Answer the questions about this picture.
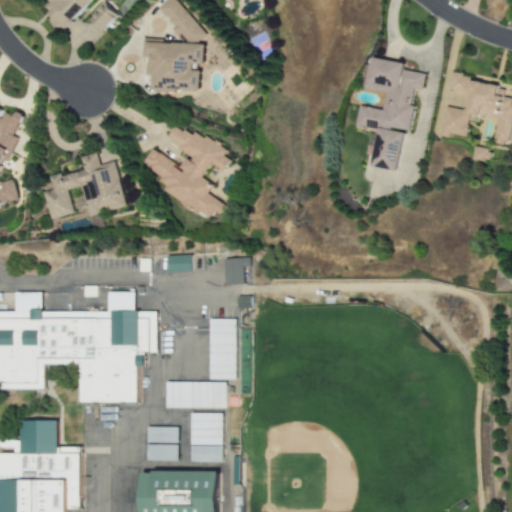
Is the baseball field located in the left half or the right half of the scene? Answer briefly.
right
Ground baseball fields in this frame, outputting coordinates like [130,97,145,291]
[243,300,480,512]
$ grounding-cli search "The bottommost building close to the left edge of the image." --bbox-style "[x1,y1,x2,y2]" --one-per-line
[0,420,85,512]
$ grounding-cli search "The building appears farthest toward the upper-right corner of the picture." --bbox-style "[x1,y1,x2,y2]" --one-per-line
[440,72,512,144]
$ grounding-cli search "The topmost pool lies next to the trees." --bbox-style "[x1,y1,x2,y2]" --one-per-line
[242,0,264,17]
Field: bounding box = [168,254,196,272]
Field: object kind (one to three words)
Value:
shed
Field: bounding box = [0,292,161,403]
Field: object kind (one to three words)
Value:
building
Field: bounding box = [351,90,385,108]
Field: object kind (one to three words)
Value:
swimming pool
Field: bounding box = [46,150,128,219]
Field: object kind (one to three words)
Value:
house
